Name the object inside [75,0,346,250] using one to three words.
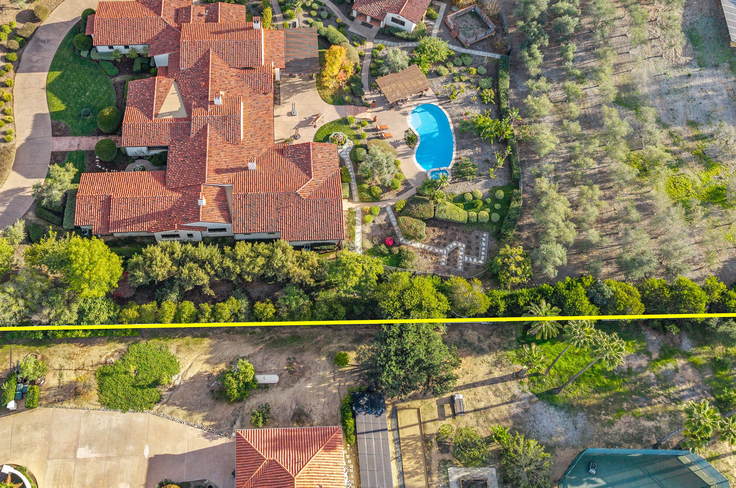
house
